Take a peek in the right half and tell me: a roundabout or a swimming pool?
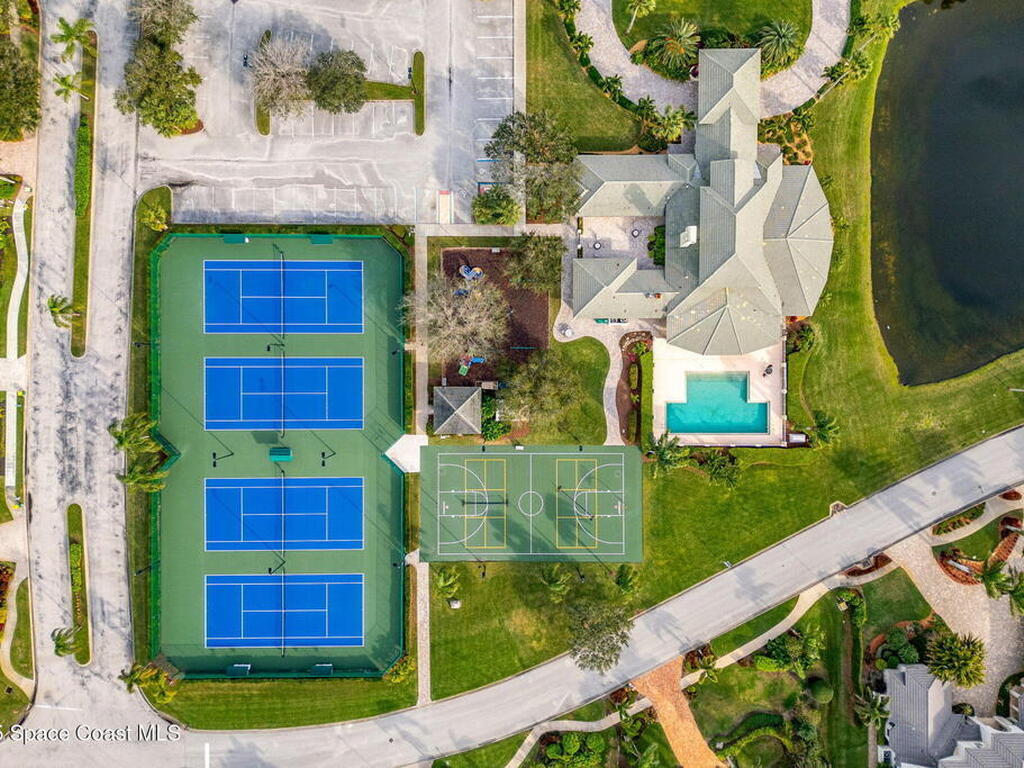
swimming pool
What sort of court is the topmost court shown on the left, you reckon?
tennis court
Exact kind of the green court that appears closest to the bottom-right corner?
basketball court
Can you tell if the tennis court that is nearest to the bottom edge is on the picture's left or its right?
left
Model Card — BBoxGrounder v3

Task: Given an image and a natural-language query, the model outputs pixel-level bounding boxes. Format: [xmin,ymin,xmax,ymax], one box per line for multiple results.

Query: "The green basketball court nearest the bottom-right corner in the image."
[420,446,643,561]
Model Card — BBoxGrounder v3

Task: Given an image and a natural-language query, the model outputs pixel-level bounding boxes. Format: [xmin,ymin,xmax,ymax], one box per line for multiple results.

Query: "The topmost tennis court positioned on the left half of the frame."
[204,254,363,339]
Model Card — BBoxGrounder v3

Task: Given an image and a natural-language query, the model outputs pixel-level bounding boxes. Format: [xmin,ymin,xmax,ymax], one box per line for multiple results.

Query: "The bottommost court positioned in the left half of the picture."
[206,568,363,656]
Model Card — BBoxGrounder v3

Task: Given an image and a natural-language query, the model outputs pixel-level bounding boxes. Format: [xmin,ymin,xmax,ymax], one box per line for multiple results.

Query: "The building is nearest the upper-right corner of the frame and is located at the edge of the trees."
[573,49,834,355]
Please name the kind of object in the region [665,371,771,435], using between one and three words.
swimming pool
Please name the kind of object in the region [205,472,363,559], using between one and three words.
tennis court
